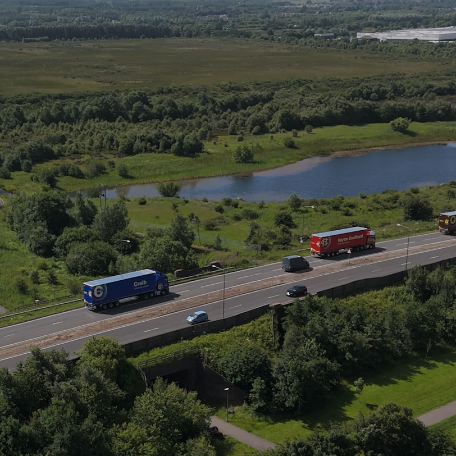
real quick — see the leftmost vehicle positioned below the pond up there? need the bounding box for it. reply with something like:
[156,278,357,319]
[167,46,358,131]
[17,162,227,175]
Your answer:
[82,269,168,308]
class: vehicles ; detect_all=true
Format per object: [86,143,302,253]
[82,269,168,308]
[185,310,211,324]
[286,285,309,298]
[282,255,311,273]
[310,227,377,257]
[437,212,456,234]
